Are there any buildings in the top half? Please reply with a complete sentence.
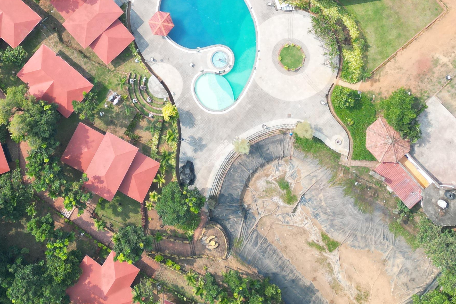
Yes, a building can be seen in the top half.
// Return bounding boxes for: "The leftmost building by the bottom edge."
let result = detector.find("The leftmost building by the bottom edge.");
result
[66,252,143,304]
